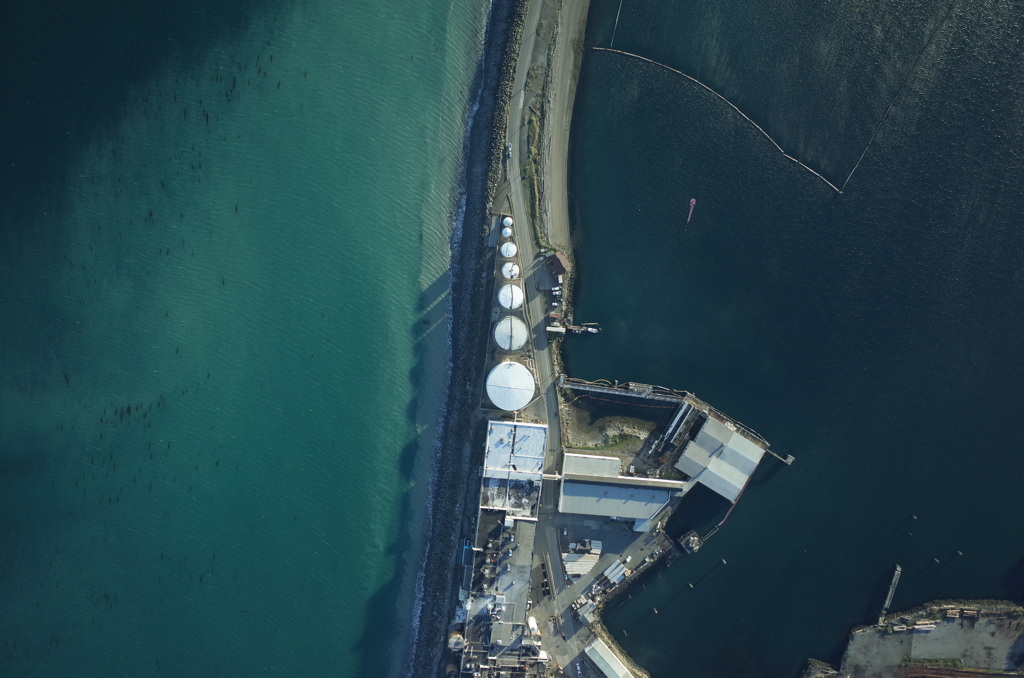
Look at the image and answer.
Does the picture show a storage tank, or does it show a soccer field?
storage tank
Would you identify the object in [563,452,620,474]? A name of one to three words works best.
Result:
building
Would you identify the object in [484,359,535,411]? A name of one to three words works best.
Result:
storage tank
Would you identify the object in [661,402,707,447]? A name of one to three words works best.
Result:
pier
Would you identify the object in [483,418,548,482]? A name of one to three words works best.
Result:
building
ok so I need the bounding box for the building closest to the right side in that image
[672,416,766,502]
